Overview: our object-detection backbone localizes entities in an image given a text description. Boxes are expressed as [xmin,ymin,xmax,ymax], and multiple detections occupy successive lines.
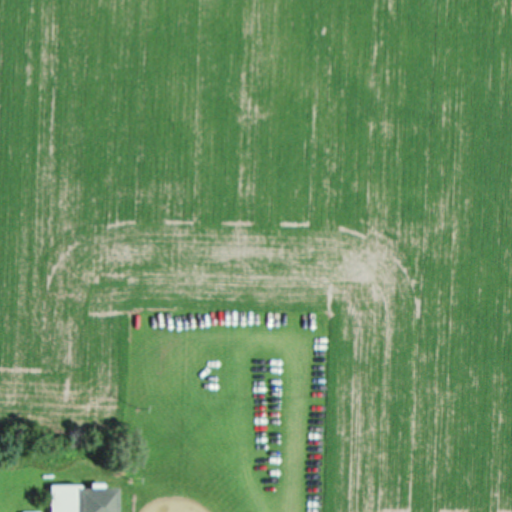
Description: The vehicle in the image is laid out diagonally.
[196,366,213,380]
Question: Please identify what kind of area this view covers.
farmland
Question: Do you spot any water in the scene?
No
